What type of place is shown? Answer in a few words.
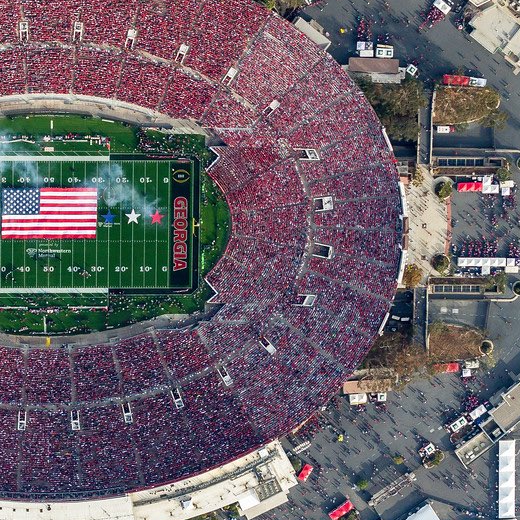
sports ground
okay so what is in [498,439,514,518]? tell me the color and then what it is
white tent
